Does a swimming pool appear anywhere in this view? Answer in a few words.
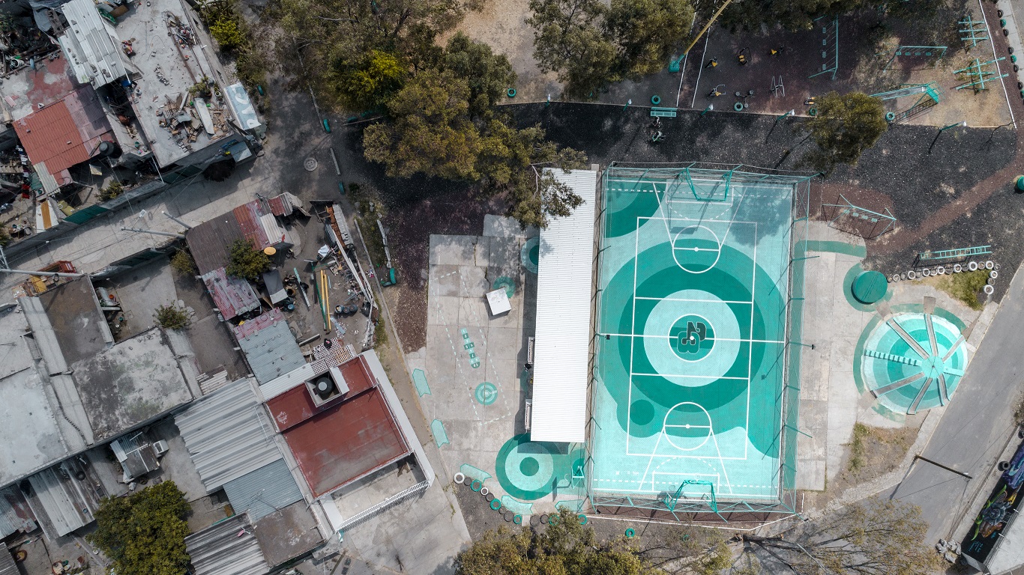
No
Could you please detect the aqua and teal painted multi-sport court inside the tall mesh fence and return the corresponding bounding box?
[587,172,799,507]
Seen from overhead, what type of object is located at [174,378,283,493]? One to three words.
shed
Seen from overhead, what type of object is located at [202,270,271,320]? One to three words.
shed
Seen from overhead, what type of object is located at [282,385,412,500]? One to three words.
house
